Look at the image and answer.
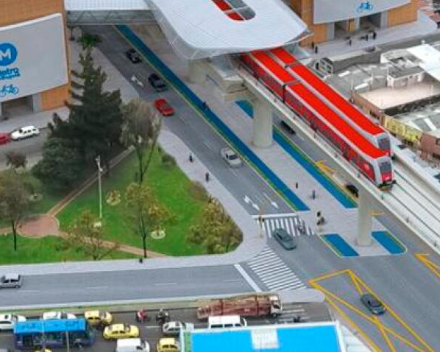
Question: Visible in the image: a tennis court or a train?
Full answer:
Of the two, only a train appears.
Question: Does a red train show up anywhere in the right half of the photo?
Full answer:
Yes, a red train appears in the right half of the photo.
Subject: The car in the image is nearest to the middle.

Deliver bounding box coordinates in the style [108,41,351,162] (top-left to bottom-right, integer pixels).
[221,148,242,168]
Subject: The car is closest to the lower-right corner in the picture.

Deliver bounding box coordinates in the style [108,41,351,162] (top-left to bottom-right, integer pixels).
[359,290,387,317]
